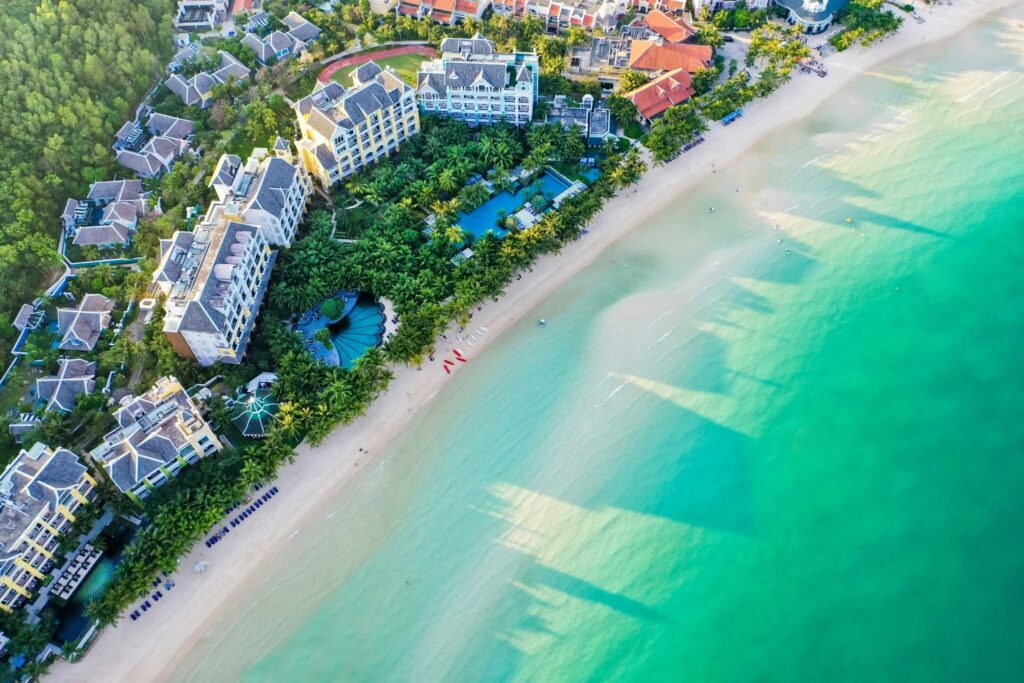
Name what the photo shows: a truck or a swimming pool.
swimming pool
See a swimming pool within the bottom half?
Yes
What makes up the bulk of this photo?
water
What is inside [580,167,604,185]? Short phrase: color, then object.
blue swimming pool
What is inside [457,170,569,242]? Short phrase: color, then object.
blue swimming pool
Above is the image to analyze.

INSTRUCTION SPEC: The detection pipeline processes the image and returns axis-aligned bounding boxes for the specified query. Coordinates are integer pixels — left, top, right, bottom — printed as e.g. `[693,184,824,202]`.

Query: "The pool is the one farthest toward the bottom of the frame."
[53,513,130,645]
